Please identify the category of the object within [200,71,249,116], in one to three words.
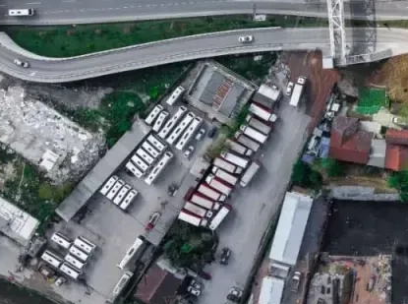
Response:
building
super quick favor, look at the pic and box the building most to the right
[385,129,408,171]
